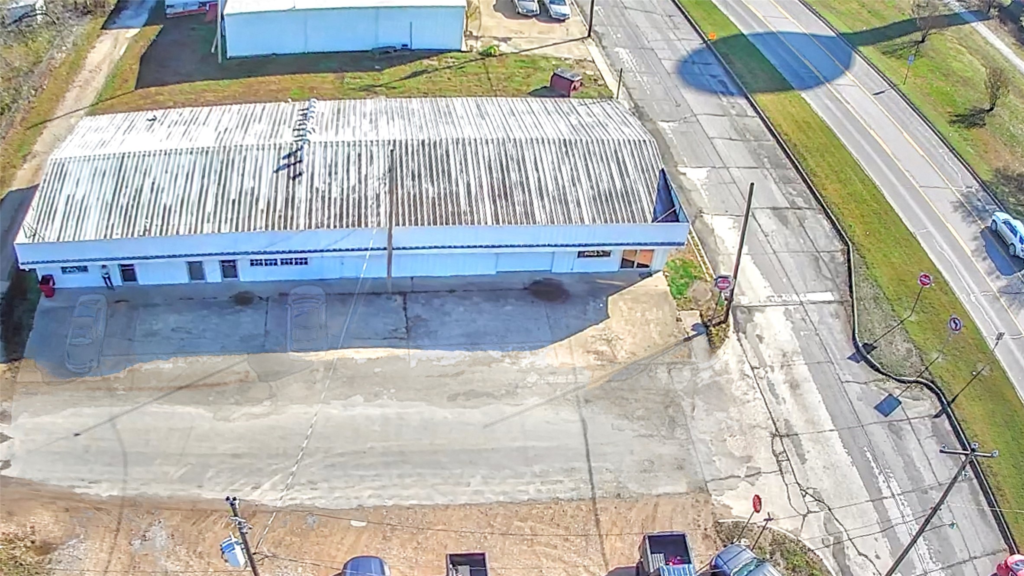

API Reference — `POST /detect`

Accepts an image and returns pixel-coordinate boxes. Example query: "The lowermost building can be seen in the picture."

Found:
[13,96,691,288]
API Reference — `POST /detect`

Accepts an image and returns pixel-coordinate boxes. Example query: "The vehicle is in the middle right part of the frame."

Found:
[991,218,1024,261]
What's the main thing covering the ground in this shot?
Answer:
paved ground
